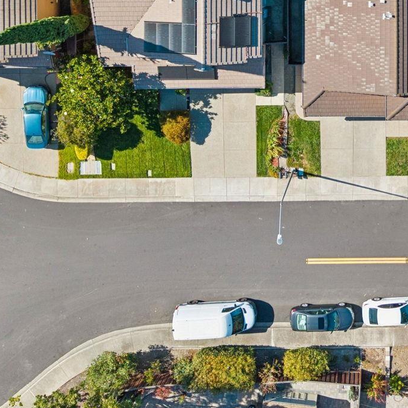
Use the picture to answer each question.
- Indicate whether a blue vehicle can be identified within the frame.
Yes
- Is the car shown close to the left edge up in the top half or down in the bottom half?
top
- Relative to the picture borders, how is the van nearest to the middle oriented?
horizontally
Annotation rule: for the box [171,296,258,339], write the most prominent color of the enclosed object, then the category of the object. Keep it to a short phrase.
white van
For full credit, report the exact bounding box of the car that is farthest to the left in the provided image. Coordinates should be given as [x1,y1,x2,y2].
[20,85,53,148]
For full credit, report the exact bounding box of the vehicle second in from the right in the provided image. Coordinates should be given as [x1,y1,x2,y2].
[290,299,354,333]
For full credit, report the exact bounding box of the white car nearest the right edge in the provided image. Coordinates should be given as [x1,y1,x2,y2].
[363,294,408,324]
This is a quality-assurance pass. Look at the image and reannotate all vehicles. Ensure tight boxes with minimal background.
[20,85,53,148]
[171,296,258,339]
[290,299,354,333]
[363,294,408,324]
